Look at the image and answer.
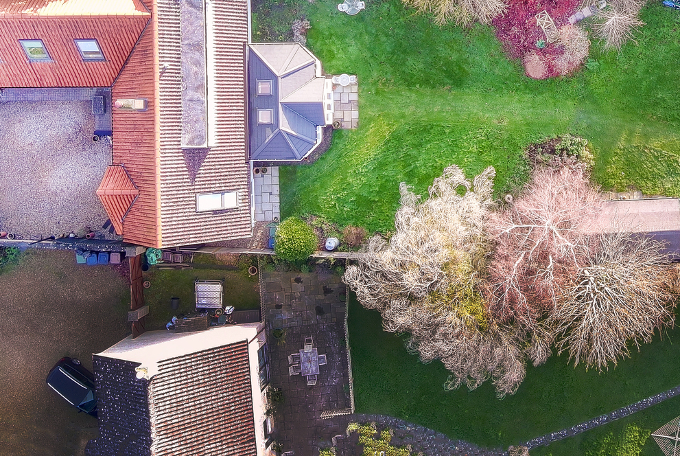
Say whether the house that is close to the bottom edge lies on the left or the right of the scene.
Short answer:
left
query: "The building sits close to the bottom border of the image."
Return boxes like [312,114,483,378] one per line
[87,318,277,456]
